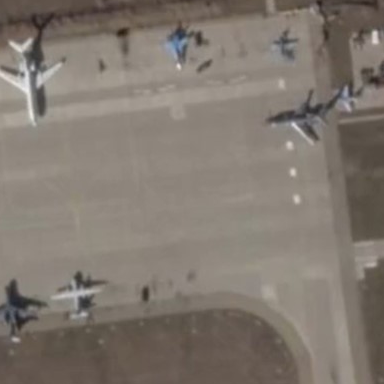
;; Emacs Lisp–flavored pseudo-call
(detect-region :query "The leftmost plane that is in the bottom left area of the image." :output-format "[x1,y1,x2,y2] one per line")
[0,293,39,342]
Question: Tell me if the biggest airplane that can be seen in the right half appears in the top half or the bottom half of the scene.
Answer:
top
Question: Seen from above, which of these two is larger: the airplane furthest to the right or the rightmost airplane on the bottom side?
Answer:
the rightmost airplane on the bottom side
